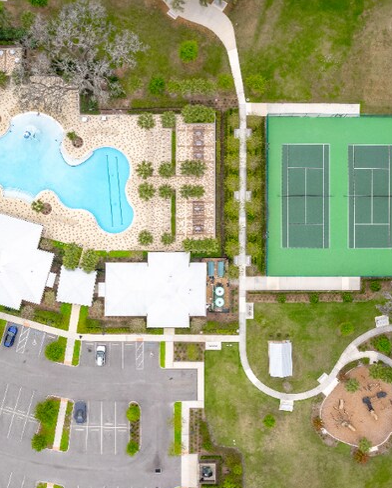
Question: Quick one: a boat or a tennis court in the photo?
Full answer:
Visible in the photo is a tennis court.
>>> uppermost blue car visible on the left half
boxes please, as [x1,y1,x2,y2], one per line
[4,326,18,348]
